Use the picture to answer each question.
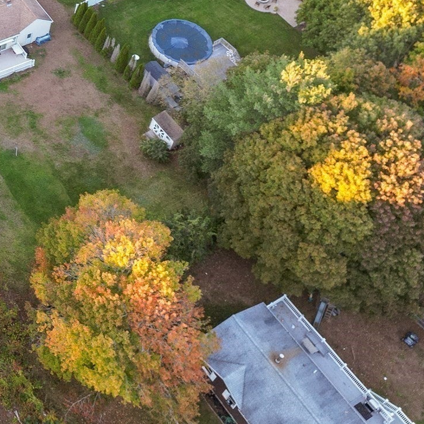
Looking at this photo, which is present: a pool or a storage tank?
pool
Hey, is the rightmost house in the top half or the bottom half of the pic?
bottom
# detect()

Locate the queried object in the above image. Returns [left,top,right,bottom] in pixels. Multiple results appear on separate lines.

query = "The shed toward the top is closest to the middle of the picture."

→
[149,109,190,150]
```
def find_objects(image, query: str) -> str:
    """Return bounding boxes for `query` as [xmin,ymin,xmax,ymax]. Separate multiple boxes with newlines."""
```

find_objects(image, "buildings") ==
[213,292,421,424]
[0,0,54,80]
[146,58,171,91]
[149,109,190,150]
